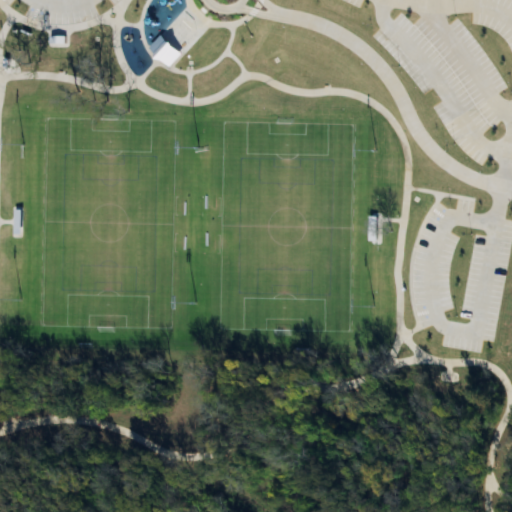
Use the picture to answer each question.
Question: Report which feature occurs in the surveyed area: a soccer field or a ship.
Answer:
soccer field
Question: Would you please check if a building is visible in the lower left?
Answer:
No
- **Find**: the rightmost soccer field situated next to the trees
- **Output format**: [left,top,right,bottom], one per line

[218,118,356,333]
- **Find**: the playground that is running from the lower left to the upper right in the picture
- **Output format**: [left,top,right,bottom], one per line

[122,0,186,75]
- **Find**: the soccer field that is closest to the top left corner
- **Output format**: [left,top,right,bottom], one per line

[42,118,180,330]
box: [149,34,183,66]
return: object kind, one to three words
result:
building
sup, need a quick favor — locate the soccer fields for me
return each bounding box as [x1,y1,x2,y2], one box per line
[218,118,356,333]
[42,118,180,330]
